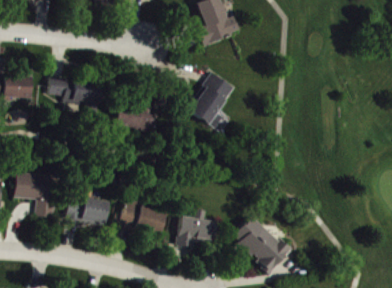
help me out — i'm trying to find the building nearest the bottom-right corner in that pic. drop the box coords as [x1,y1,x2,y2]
[233,218,295,275]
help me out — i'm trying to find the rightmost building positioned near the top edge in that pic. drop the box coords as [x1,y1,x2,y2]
[198,0,242,48]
